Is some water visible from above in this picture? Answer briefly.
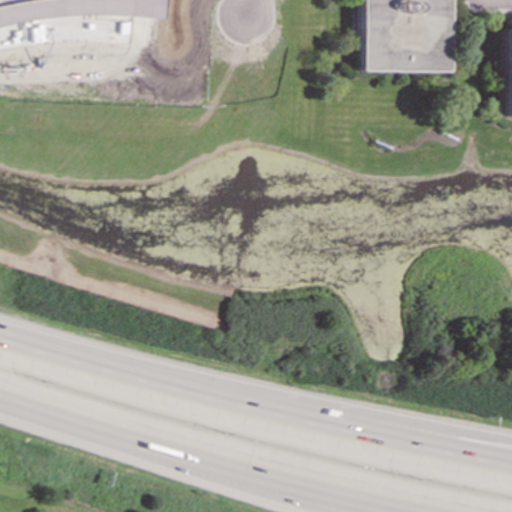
Yes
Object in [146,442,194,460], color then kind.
white vehicle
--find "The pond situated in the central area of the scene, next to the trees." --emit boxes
[0,148,512,361]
